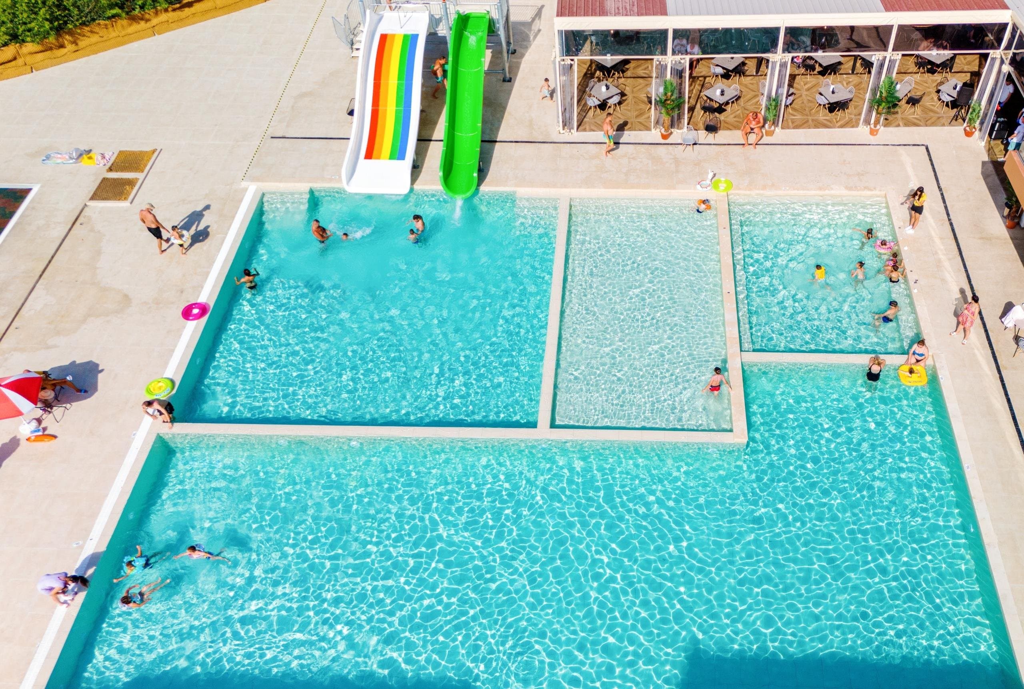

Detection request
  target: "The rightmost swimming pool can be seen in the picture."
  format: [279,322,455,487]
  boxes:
[47,188,1018,689]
